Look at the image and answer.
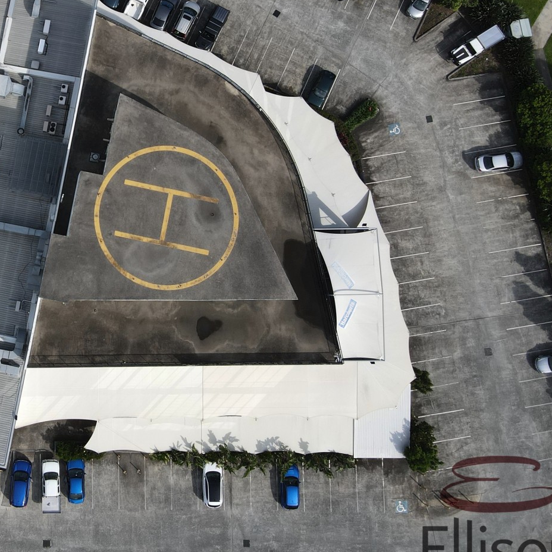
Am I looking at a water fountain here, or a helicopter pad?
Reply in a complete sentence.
It is a helicopter pad that can be seen here.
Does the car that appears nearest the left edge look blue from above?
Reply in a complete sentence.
Yes, the car that appears nearest the left edge is indeed blue.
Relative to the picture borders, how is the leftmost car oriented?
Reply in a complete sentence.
Seen from above, the leftmost car lies up and down.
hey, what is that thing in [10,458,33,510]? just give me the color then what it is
blue car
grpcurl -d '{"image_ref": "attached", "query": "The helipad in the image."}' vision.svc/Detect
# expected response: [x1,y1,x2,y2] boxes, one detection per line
[39,94,298,300]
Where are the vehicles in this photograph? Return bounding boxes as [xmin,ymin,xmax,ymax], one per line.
[532,351,552,374]
[124,0,149,21]
[65,459,88,504]
[39,458,62,513]
[10,458,33,510]
[149,0,177,30]
[405,0,432,19]
[448,21,510,67]
[473,148,524,174]
[279,471,306,511]
[104,0,123,9]
[196,4,232,50]
[308,61,340,109]
[202,471,227,509]
[171,1,200,40]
